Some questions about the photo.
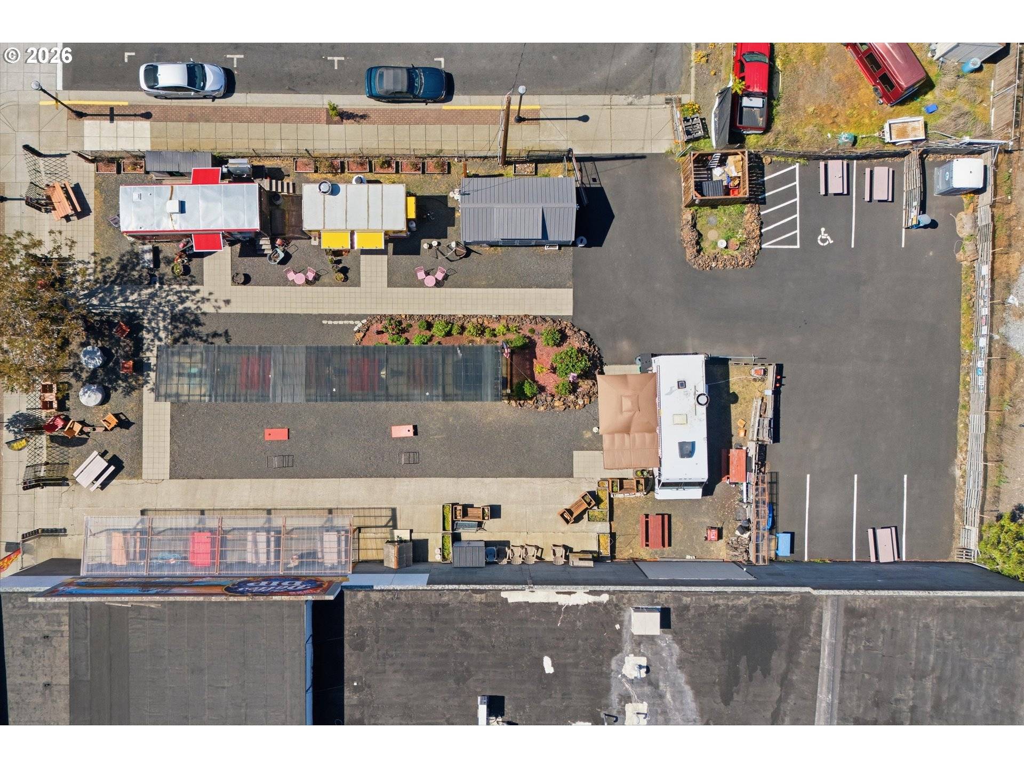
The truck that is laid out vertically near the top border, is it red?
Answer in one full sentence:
Yes, the truck that is laid out vertically near the top border is red.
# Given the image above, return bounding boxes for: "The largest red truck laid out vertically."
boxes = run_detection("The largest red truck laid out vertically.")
[731,37,775,138]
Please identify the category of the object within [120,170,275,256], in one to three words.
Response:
trailer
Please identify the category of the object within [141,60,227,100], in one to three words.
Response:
car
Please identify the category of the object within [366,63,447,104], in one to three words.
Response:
car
